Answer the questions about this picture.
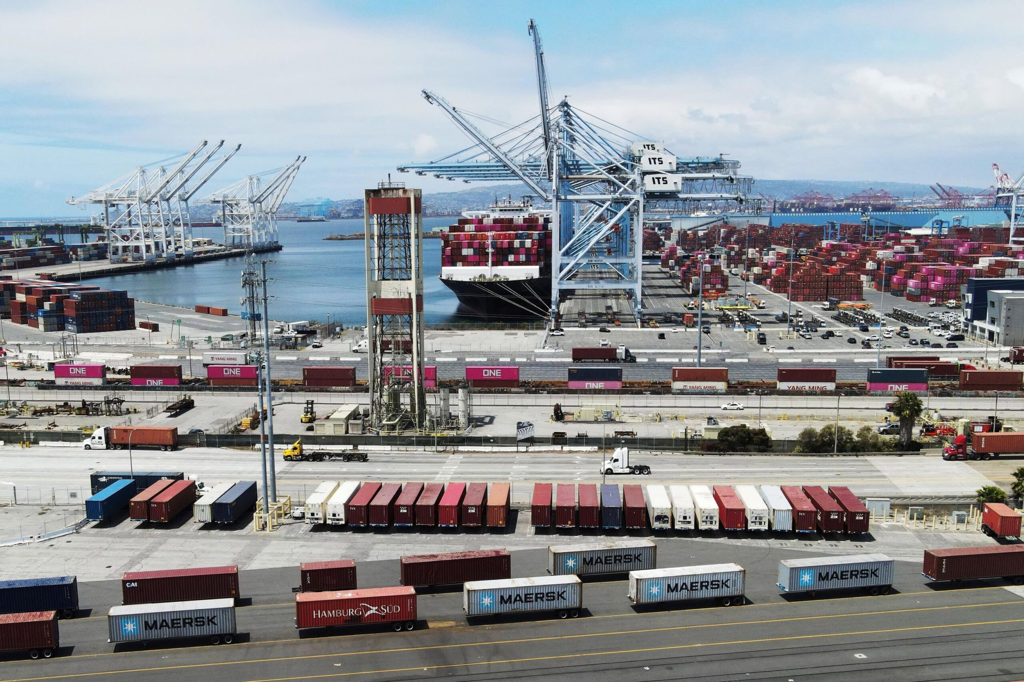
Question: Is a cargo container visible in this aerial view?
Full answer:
Yes, there's a cargo container down there.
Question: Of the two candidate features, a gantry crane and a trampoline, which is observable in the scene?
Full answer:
Visible in the photo is a gantry crane.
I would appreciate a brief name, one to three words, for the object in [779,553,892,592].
shipping container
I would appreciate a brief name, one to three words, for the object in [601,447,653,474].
truck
